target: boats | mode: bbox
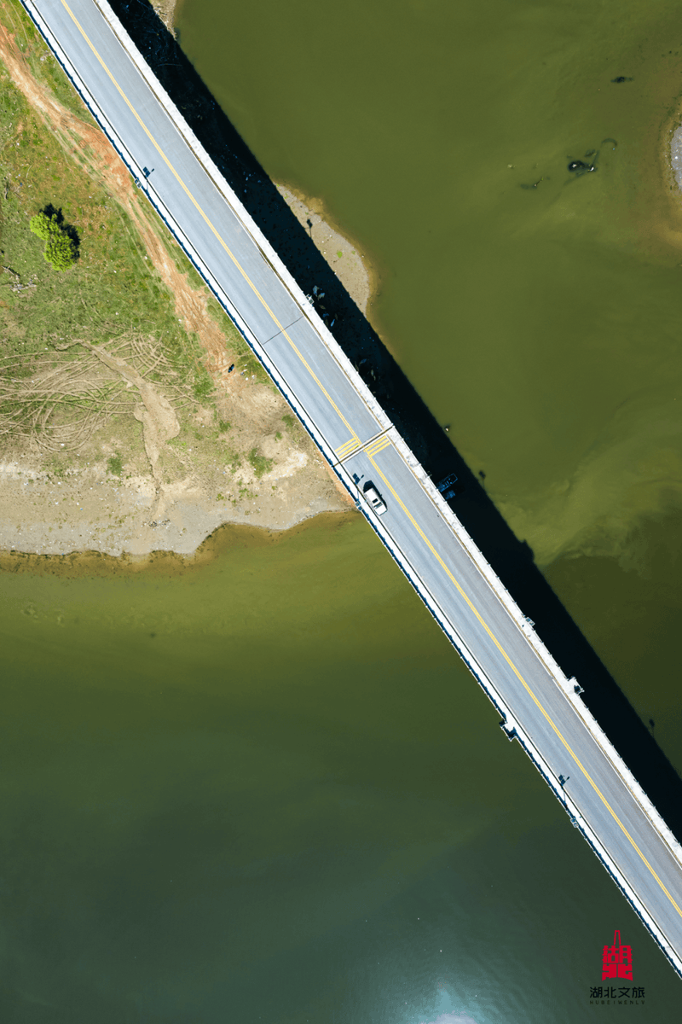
[442,489,456,502]
[437,475,458,493]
